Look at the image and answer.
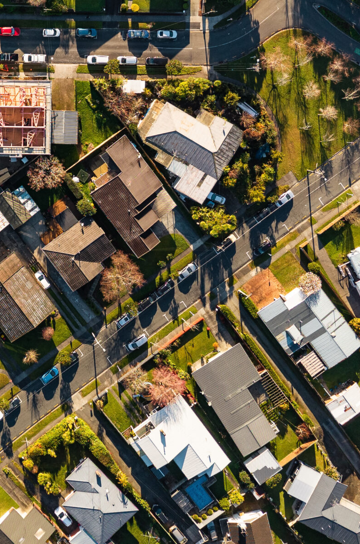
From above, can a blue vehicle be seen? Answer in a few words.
Yes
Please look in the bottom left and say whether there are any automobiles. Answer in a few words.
Yes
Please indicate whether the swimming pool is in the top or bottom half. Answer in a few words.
bottom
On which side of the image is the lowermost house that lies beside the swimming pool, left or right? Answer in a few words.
right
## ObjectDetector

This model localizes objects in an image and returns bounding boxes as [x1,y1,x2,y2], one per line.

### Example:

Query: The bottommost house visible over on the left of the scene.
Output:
[0,503,56,544]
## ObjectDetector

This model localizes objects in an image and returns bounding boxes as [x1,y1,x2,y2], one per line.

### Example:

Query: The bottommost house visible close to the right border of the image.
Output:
[285,461,360,544]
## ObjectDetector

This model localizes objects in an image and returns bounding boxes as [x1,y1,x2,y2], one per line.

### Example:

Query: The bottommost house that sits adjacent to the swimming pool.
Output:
[219,506,273,544]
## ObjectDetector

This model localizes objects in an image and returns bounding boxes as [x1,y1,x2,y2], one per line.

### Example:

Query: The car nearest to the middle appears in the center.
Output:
[178,263,195,279]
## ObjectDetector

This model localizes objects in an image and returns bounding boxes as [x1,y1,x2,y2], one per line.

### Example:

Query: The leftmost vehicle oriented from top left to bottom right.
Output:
[34,271,49,289]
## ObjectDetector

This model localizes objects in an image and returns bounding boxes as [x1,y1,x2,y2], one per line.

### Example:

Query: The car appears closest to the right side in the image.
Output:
[275,190,294,206]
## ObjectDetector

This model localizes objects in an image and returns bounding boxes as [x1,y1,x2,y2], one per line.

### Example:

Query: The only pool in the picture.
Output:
[183,475,216,503]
